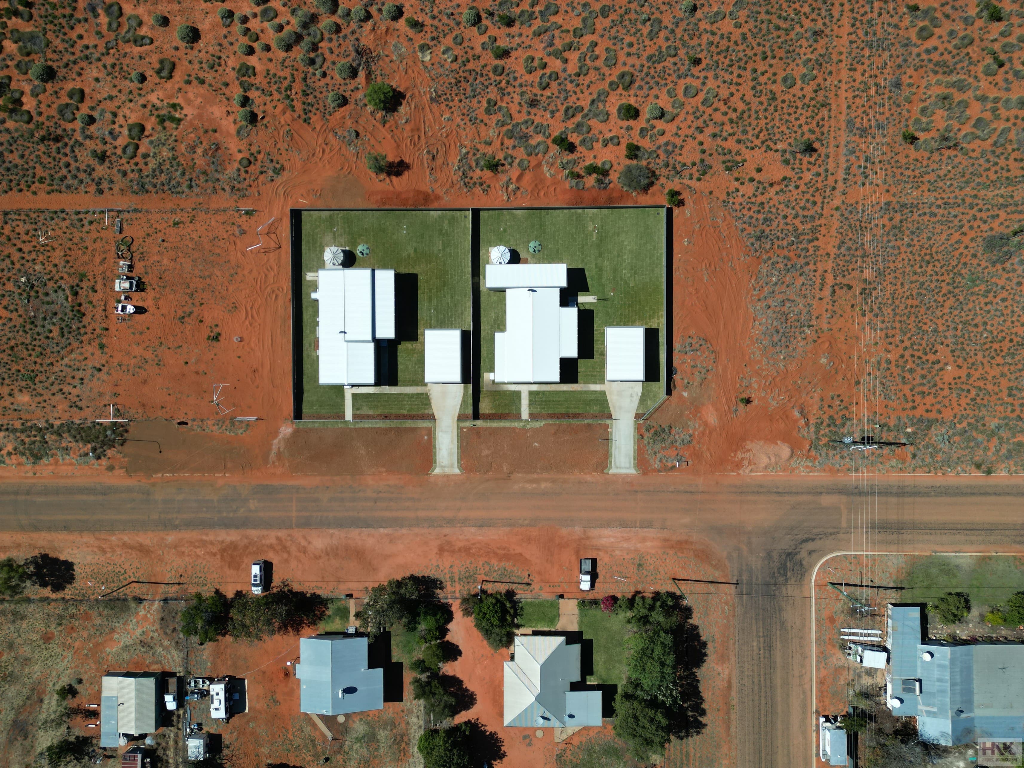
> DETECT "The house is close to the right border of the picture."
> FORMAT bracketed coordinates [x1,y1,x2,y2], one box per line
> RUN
[882,604,1024,746]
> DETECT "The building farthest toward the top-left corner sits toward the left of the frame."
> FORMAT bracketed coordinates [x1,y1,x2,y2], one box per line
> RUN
[311,268,400,388]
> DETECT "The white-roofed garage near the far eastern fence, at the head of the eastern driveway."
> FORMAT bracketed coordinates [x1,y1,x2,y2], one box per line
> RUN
[606,326,645,381]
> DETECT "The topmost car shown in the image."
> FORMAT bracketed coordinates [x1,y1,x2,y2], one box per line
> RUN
[113,278,137,291]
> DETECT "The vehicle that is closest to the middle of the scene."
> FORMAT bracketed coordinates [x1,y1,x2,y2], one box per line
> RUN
[579,559,593,593]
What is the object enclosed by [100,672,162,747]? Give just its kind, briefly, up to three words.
house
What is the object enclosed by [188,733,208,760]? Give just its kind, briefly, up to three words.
shed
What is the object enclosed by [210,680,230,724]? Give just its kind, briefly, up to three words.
camper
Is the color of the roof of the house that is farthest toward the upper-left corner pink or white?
white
